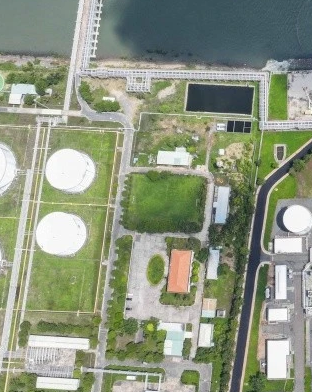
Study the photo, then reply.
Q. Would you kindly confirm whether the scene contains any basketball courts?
No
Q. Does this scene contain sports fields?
Yes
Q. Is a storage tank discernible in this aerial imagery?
Yes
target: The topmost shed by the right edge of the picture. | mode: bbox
[274,238,303,253]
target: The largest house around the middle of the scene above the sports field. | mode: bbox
[157,152,194,167]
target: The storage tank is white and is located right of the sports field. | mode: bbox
[283,203,312,237]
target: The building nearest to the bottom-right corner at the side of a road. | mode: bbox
[267,339,290,379]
